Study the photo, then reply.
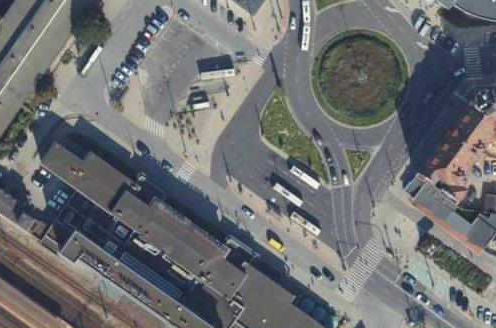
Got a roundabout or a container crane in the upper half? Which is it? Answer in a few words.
roundabout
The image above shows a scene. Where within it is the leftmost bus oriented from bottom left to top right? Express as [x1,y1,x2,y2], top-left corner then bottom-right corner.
[80,45,104,77]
